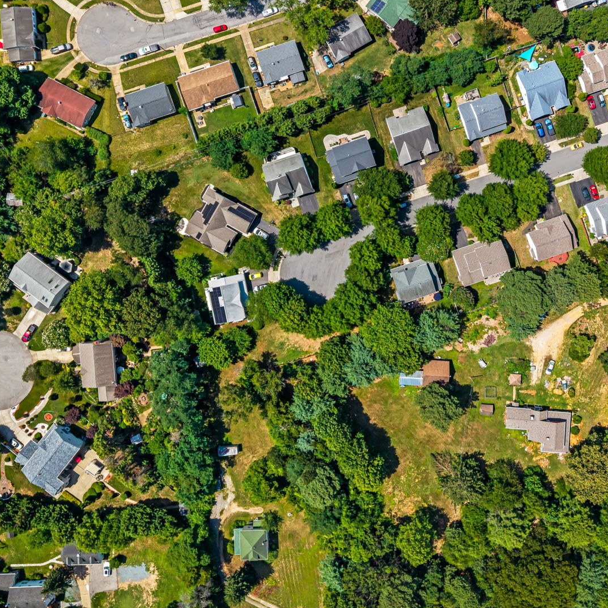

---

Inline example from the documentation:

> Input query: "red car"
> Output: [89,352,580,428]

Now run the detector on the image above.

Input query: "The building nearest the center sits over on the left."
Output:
[208,274,247,324]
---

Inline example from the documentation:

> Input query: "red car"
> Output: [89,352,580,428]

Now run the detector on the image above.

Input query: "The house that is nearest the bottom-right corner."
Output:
[504,406,572,455]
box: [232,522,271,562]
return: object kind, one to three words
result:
house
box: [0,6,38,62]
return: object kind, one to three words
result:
house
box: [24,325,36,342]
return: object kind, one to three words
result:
vehicle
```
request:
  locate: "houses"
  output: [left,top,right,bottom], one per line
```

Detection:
[556,0,596,11]
[367,0,416,29]
[504,406,572,455]
[457,92,509,142]
[390,259,440,301]
[326,12,377,64]
[15,422,88,497]
[516,61,571,121]
[208,274,247,324]
[256,39,306,86]
[525,215,579,263]
[0,6,38,62]
[326,136,376,186]
[386,106,438,165]
[584,197,608,237]
[184,184,257,255]
[177,61,239,111]
[9,252,71,311]
[35,77,97,127]
[0,570,52,608]
[579,49,608,91]
[452,240,508,282]
[232,522,271,562]
[263,152,312,205]
[72,338,120,402]
[124,82,175,125]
